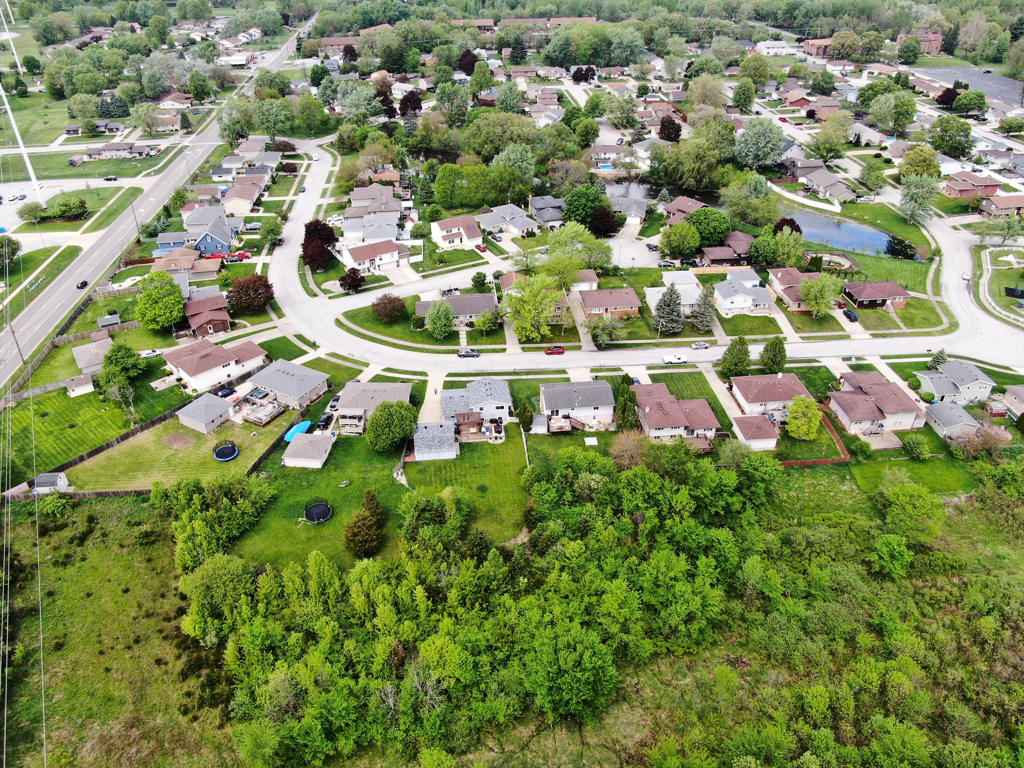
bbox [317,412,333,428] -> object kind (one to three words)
car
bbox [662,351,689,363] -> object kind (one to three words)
vehicle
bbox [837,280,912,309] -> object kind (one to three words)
house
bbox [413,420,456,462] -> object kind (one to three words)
building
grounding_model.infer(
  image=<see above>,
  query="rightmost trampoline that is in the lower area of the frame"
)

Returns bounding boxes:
[303,496,332,525]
